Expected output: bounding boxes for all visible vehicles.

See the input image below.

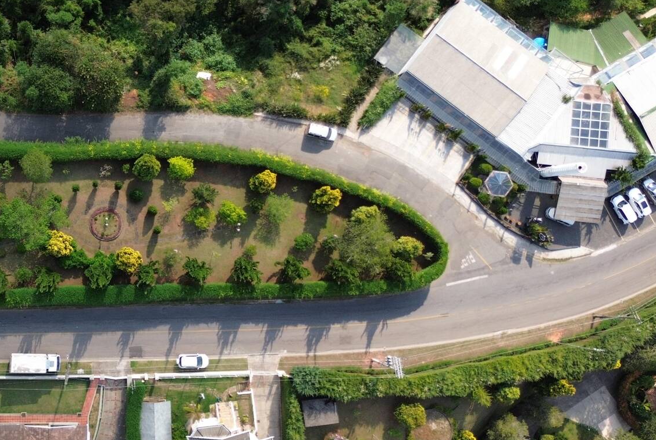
[612,199,636,225]
[539,209,570,228]
[10,354,61,373]
[639,177,656,204]
[305,124,336,141]
[177,354,209,370]
[624,188,652,217]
